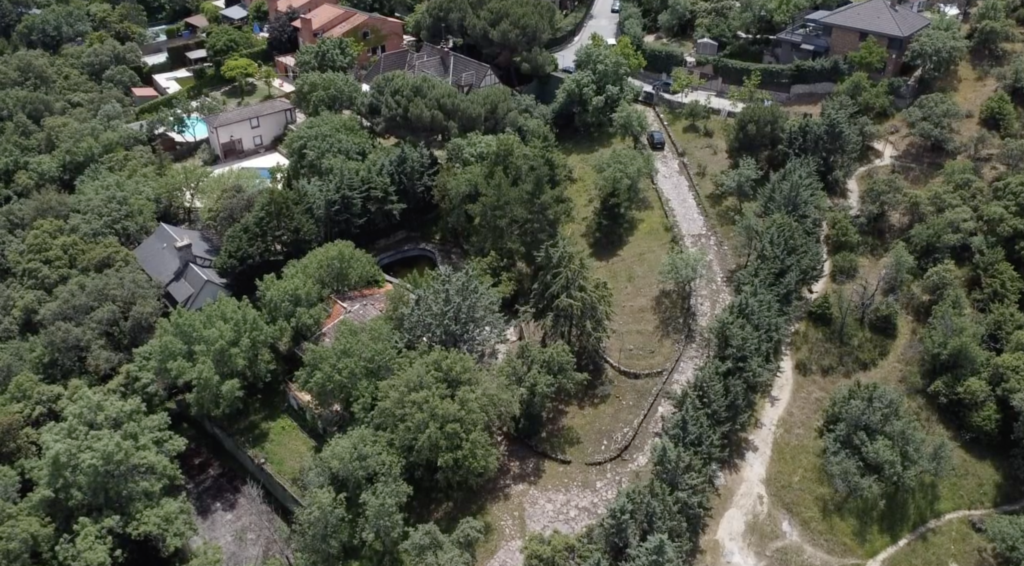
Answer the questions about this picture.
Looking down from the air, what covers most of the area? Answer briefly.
trees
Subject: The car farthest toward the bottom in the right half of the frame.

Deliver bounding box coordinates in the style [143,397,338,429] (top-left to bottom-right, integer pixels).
[647,129,667,147]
